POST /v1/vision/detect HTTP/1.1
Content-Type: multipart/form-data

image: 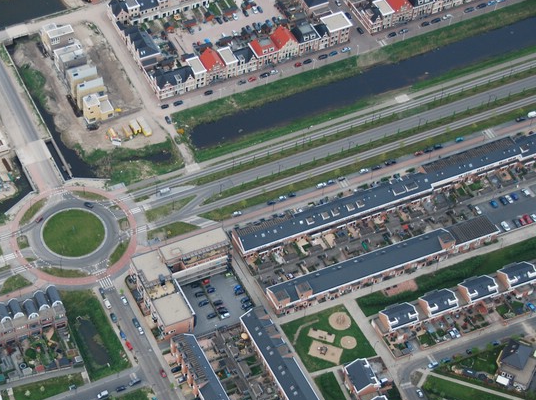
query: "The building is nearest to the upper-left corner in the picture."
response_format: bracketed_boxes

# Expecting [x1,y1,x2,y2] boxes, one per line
[41,22,74,53]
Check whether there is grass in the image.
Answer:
Yes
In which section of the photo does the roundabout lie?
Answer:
left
